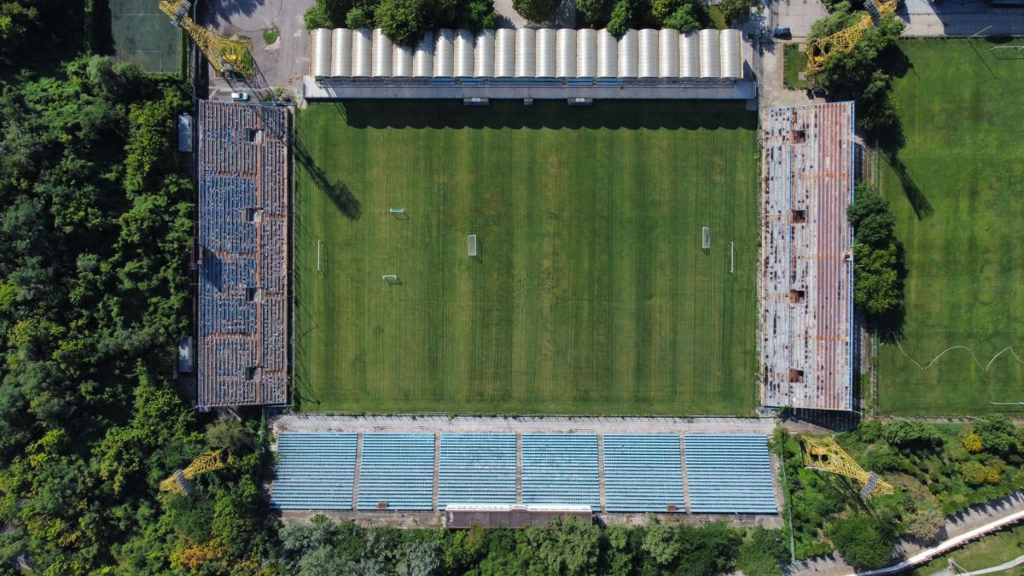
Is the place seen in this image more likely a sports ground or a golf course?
sports ground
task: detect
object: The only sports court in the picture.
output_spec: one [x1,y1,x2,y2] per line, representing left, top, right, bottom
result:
[101,0,181,73]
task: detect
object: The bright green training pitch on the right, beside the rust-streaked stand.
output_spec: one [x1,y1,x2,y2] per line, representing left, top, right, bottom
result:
[878,38,1024,416]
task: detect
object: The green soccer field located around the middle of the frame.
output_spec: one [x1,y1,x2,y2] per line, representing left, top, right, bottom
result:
[292,85,759,416]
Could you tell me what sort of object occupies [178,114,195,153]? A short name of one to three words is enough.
building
